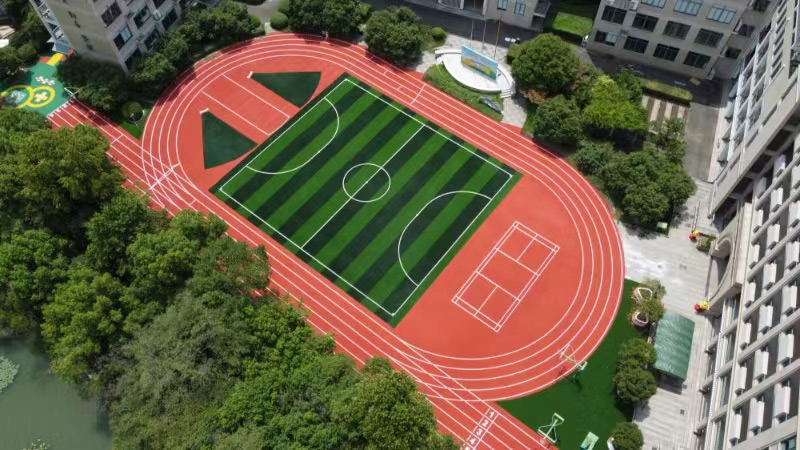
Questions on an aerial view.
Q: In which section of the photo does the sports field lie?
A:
center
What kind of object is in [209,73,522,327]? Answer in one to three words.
sports field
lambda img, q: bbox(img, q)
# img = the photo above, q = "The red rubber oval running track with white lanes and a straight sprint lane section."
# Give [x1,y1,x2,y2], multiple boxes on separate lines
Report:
[46,32,624,450]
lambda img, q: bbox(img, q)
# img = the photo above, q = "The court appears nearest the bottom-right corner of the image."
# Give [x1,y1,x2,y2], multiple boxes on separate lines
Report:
[452,220,559,332]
